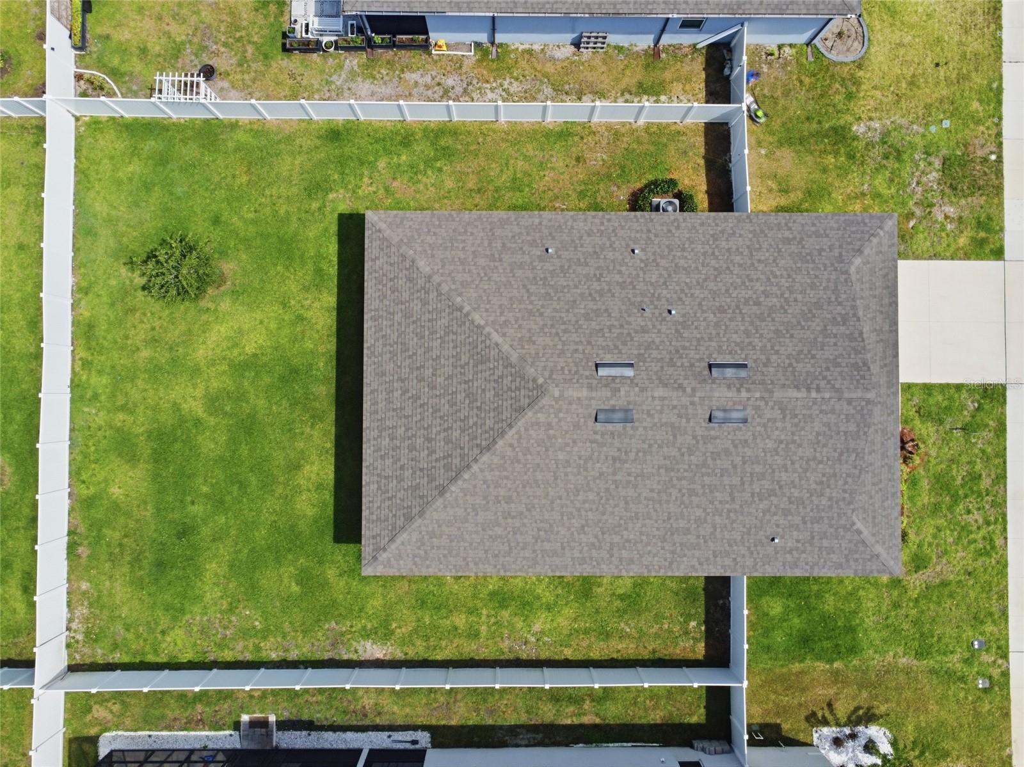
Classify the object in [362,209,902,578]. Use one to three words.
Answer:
house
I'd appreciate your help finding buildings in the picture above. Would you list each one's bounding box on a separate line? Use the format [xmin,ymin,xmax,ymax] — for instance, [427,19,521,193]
[362,209,902,578]
[341,0,861,48]
[225,742,837,767]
